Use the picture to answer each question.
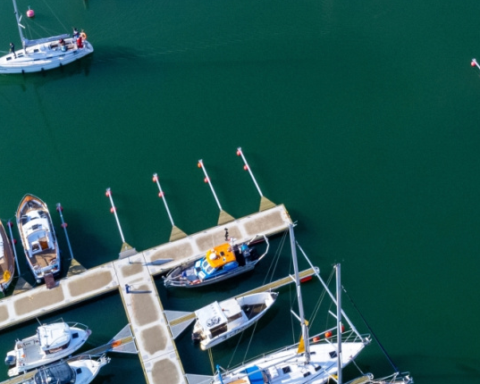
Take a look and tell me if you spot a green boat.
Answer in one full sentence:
No, there appears to be no green boat in this shot.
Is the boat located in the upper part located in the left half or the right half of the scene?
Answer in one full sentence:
The boat located in the upper part sits on the left side.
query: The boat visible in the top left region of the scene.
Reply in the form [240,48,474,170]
[0,0,94,74]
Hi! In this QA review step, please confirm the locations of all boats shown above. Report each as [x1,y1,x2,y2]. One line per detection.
[183,291,279,357]
[160,230,275,291]
[5,322,105,379]
[216,222,373,384]
[32,353,124,384]
[19,196,71,300]
[0,0,94,74]
[0,221,16,298]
